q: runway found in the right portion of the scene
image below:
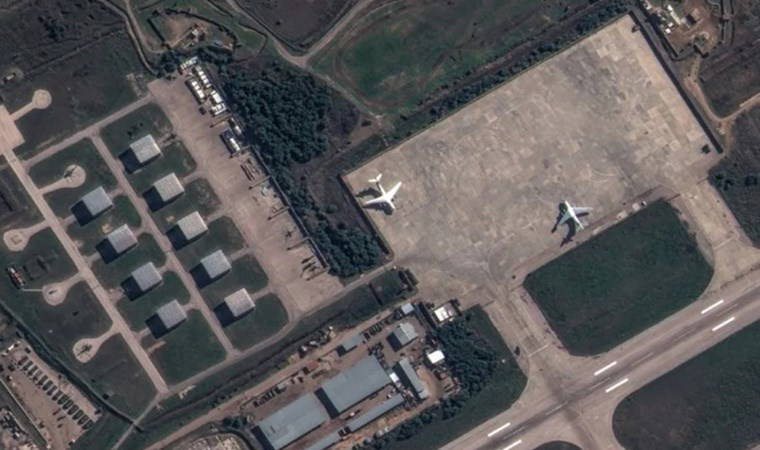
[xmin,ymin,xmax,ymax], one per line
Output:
[438,264,760,450]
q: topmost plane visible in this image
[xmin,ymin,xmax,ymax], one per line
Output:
[367,175,402,210]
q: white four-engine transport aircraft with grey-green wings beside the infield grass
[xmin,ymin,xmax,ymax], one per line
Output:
[560,203,592,235]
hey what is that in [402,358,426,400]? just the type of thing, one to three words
shed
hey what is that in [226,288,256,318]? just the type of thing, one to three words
hangar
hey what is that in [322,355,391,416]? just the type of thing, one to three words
building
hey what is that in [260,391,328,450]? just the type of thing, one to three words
building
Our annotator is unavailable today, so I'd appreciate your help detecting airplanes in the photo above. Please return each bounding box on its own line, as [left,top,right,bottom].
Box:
[560,203,592,235]
[367,175,402,210]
